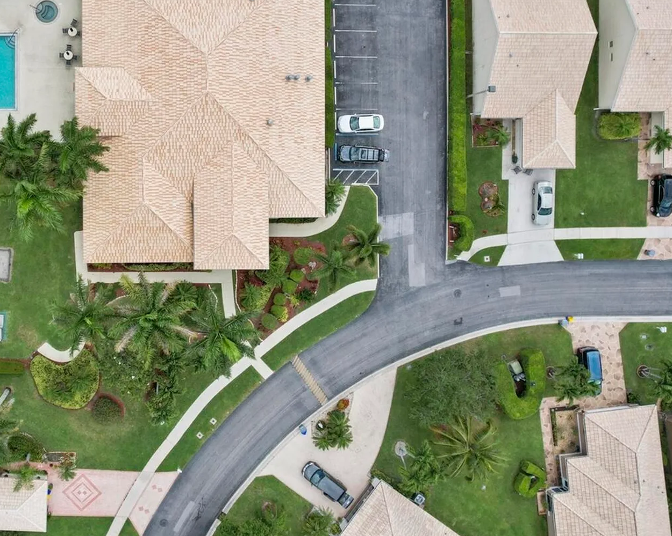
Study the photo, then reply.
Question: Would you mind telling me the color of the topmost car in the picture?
white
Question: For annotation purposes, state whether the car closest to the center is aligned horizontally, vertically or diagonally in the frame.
horizontally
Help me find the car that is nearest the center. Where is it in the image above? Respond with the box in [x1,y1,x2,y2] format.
[336,143,385,165]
